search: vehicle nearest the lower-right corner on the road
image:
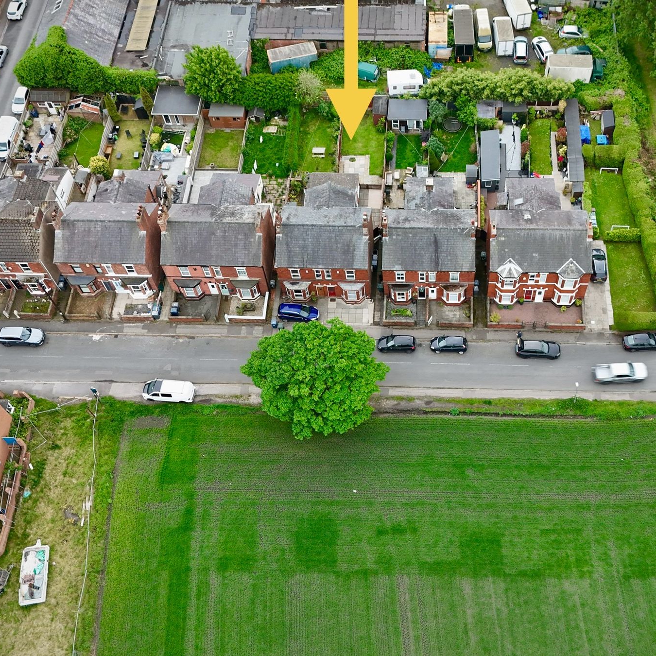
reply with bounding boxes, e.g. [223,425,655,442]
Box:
[593,360,653,385]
